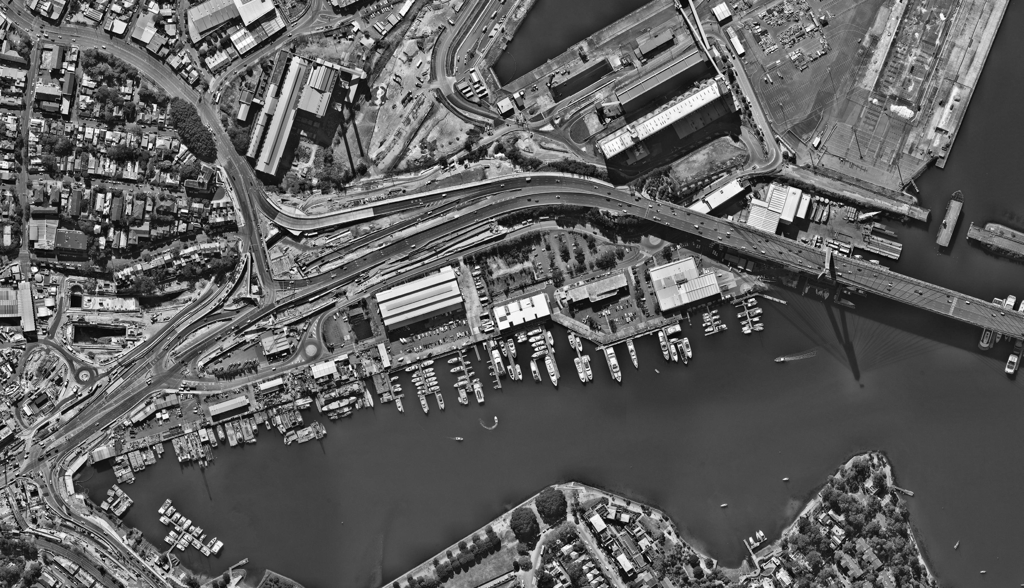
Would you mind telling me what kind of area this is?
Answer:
port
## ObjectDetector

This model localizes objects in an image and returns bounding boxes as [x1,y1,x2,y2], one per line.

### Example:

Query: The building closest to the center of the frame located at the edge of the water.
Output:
[493,292,551,330]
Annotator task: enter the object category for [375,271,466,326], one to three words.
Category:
building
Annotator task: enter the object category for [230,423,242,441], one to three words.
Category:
boat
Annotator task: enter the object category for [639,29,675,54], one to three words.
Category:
shed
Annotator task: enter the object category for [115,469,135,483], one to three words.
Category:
ship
